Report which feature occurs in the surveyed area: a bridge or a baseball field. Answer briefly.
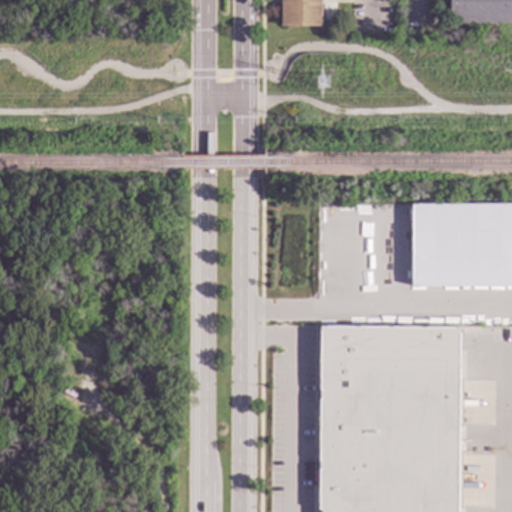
bridge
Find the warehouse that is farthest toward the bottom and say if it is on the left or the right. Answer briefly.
right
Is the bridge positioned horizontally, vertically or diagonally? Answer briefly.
horizontally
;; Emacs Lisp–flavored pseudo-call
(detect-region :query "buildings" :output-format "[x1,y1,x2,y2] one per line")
[452,0,512,23]
[412,202,512,286]
[320,326,466,512]
[282,0,324,26]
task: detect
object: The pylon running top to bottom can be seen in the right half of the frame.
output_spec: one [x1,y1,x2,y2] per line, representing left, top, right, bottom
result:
[316,62,332,98]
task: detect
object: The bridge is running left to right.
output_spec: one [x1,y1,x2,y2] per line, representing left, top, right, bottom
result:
[166,143,289,184]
